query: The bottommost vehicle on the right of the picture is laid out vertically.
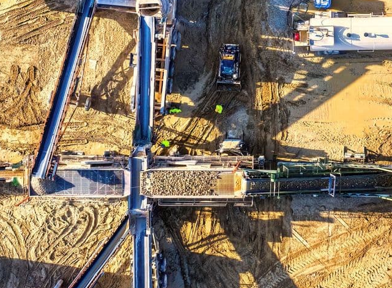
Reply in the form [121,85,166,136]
[222,100,249,156]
